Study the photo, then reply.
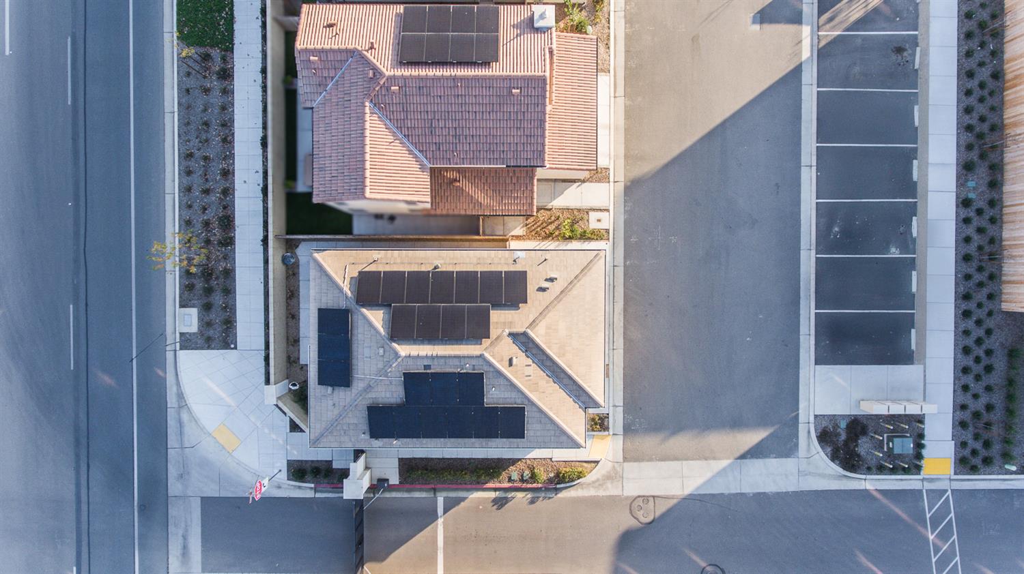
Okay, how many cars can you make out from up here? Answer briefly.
0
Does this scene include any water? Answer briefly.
No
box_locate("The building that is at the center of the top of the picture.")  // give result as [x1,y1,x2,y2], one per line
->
[289,0,600,217]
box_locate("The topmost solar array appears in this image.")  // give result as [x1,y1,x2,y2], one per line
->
[398,6,500,62]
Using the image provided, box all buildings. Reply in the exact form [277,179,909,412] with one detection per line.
[307,246,609,451]
[289,0,600,217]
